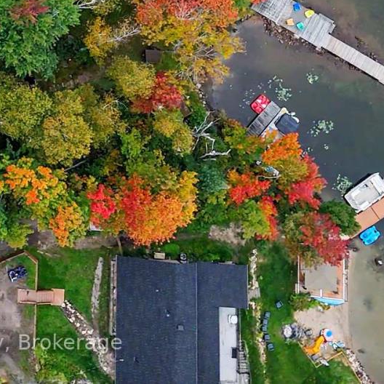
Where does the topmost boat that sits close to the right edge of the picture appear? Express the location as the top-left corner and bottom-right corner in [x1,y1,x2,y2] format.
[344,173,384,211]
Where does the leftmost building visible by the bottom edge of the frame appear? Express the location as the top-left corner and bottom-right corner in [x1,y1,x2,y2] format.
[114,254,249,384]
